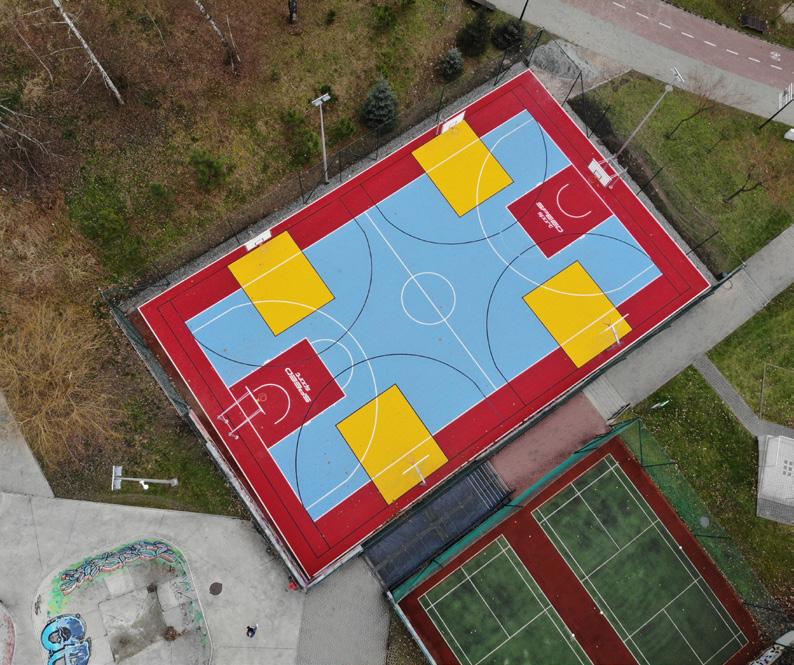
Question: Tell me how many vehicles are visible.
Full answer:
There are no vehicles in the image.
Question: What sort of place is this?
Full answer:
The picture captures a sports ground.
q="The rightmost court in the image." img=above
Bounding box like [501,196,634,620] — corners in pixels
[531,453,751,665]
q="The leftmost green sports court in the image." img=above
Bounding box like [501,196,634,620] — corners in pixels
[418,535,594,665]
